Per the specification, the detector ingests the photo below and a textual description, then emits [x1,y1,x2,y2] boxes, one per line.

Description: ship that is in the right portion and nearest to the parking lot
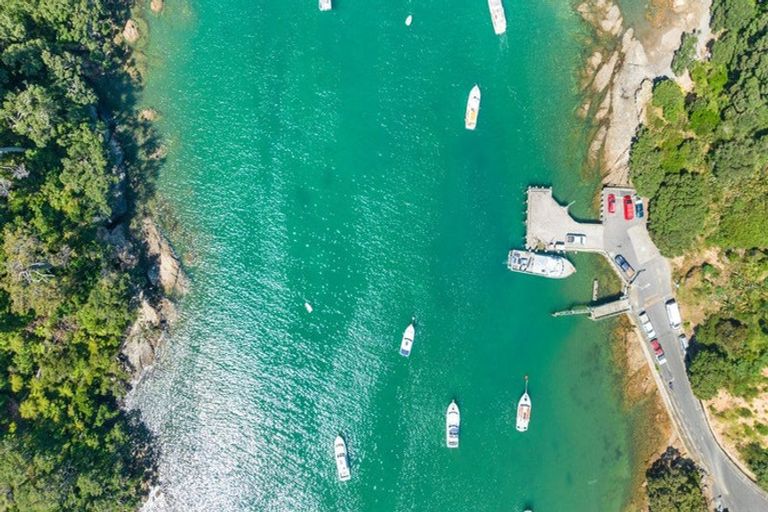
[502,250,576,276]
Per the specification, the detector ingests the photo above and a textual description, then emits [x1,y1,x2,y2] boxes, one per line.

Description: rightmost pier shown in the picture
[586,299,630,319]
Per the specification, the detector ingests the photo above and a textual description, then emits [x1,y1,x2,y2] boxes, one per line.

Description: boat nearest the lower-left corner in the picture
[334,436,350,482]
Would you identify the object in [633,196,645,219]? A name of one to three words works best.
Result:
vehicle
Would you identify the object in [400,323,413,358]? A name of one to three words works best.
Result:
boat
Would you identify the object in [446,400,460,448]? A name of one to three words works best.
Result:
boat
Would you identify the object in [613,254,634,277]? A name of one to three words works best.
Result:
truck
